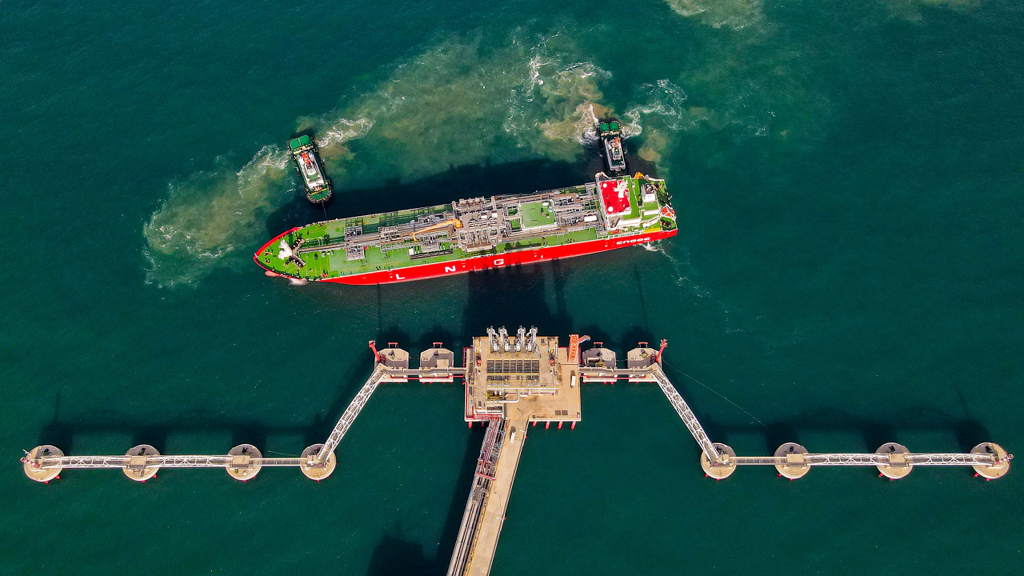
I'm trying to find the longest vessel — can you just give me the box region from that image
[252,170,677,288]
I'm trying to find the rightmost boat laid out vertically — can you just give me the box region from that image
[597,121,631,180]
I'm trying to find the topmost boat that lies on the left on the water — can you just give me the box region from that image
[288,132,332,202]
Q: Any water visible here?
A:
Yes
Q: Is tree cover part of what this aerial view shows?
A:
No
